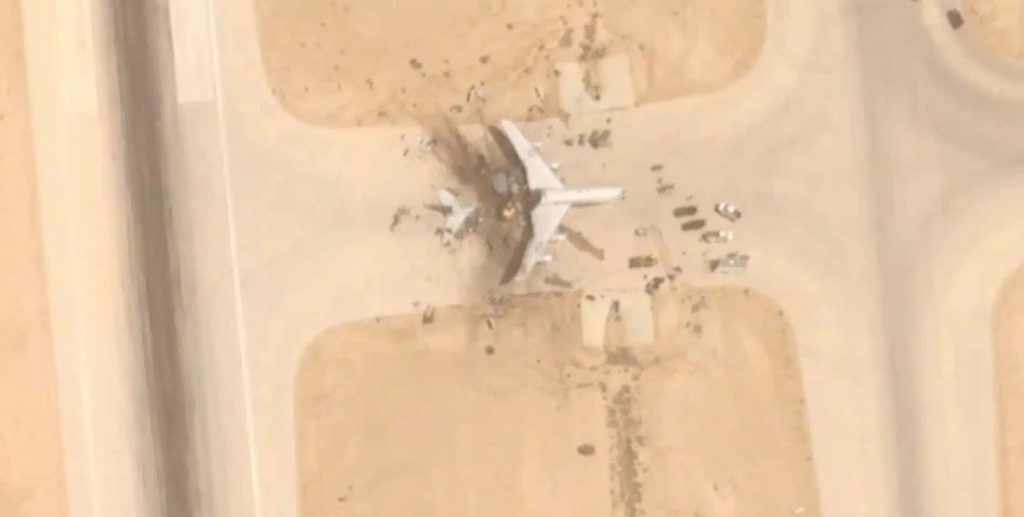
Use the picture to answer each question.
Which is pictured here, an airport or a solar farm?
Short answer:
airport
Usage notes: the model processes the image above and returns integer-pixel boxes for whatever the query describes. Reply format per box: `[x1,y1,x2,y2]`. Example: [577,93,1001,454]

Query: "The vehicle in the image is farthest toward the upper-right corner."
[949,9,964,26]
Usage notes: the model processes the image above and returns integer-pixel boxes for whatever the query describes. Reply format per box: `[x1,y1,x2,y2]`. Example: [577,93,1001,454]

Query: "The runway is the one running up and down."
[21,0,259,517]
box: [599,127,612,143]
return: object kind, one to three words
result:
vehicle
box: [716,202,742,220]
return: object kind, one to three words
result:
vehicle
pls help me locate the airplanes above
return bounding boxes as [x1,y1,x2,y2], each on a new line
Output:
[501,119,627,281]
